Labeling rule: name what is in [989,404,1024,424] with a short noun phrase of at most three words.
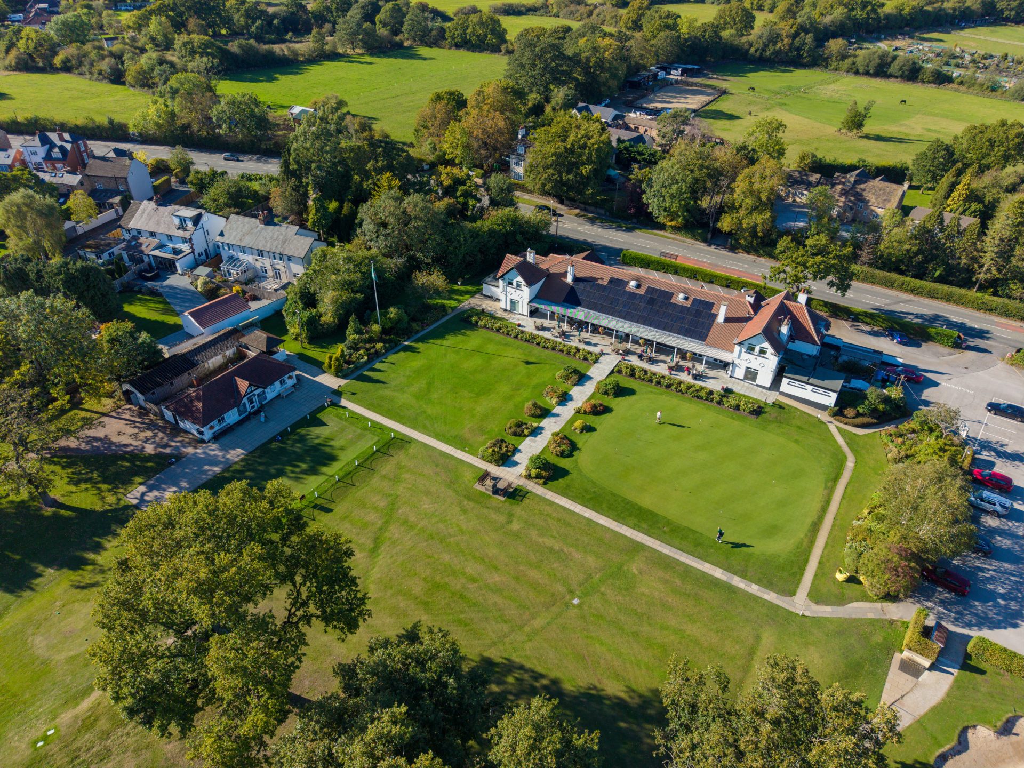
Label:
car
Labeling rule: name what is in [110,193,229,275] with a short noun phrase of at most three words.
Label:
house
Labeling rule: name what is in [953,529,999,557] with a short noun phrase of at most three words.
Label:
car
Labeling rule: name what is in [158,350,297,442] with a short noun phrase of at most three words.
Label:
building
